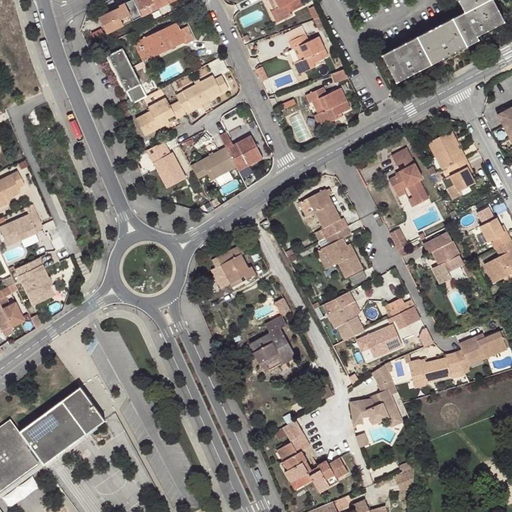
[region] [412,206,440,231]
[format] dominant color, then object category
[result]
blue swimming pool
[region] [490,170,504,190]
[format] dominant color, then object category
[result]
white vehicle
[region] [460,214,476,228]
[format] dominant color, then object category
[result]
blue swimming pool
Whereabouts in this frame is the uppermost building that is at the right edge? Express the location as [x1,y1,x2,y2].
[384,0,506,84]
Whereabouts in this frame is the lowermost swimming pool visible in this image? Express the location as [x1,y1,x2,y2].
[368,425,397,444]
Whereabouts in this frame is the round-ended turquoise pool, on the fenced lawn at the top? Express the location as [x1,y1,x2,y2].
[238,8,265,28]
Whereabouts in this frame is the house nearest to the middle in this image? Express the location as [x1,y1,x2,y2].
[212,247,256,290]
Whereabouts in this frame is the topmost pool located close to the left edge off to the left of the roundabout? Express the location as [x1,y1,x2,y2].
[4,246,25,263]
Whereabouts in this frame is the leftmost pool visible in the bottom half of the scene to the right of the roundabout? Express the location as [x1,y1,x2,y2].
[254,303,276,320]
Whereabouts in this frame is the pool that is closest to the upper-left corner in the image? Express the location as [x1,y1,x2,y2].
[160,60,184,83]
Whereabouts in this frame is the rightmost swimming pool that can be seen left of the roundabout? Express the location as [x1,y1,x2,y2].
[48,301,64,315]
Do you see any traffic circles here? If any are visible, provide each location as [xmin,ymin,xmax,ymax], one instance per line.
[108,230,188,310]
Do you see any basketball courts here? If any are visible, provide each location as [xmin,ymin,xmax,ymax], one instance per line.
[95,471,147,512]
